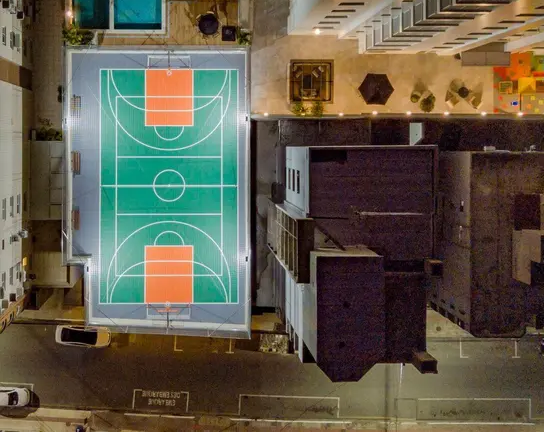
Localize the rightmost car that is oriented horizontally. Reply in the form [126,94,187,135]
[56,324,110,351]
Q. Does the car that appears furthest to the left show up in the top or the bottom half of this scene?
bottom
